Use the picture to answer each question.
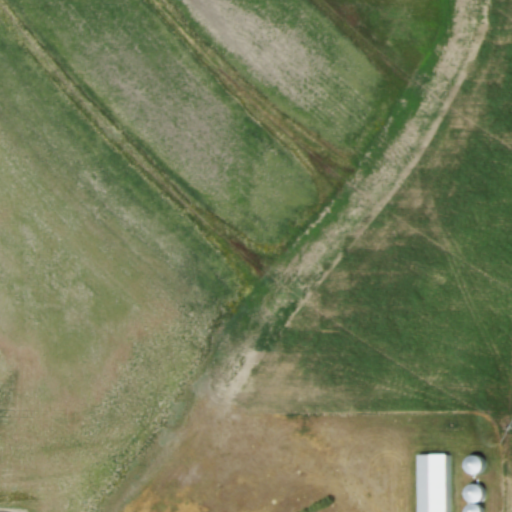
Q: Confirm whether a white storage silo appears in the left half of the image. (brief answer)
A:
No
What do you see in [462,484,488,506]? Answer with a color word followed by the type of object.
white silo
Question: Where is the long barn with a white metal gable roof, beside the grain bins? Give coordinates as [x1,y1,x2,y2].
[416,452,452,512]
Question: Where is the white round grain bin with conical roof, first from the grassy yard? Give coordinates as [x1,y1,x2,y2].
[462,455,488,478]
